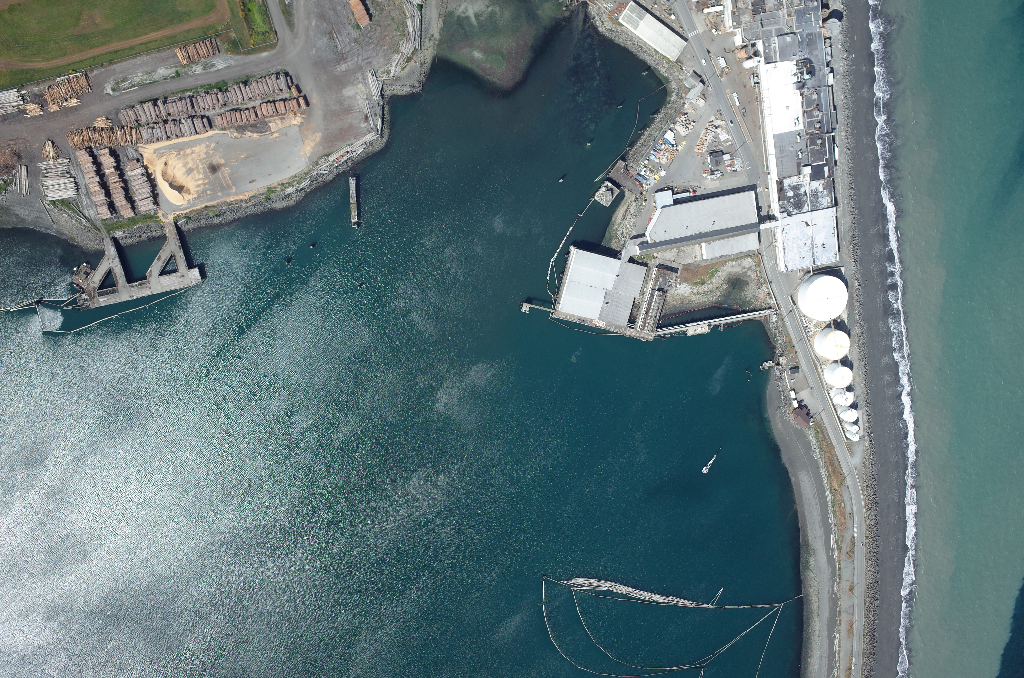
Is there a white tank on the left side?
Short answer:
No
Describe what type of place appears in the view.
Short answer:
port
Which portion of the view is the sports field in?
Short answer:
top left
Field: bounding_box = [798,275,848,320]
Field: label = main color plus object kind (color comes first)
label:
white storage tank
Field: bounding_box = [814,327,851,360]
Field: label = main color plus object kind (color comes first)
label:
white storage tank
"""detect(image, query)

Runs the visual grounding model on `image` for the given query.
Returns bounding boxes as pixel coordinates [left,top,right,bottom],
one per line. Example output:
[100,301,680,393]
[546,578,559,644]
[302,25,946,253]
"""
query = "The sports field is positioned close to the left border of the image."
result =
[0,0,275,89]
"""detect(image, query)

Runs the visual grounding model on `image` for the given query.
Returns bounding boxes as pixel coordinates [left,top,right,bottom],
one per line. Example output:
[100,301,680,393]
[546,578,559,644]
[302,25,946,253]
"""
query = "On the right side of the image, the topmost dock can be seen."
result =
[609,160,643,197]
